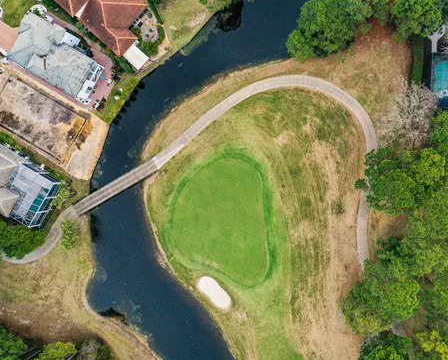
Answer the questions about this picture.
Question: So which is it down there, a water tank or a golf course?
golf course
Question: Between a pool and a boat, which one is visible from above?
pool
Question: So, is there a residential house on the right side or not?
No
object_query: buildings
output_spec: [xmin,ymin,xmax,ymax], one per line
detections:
[7,15,102,102]
[0,144,26,213]
[52,0,153,71]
